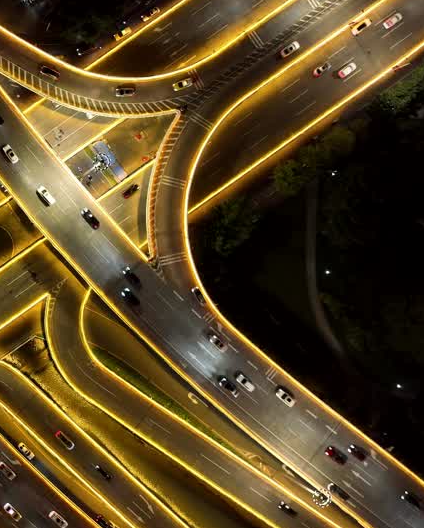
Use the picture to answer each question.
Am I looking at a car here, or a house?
car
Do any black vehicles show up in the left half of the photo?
Yes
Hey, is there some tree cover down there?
Yes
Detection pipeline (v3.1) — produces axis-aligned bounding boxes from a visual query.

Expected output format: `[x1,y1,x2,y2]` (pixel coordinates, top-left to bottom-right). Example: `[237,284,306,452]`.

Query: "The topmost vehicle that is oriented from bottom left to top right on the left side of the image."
[144,3,162,19]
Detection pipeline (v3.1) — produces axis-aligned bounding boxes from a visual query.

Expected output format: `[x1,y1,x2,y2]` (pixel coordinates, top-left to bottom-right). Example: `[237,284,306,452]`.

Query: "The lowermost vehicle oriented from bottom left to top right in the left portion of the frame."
[121,183,140,198]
